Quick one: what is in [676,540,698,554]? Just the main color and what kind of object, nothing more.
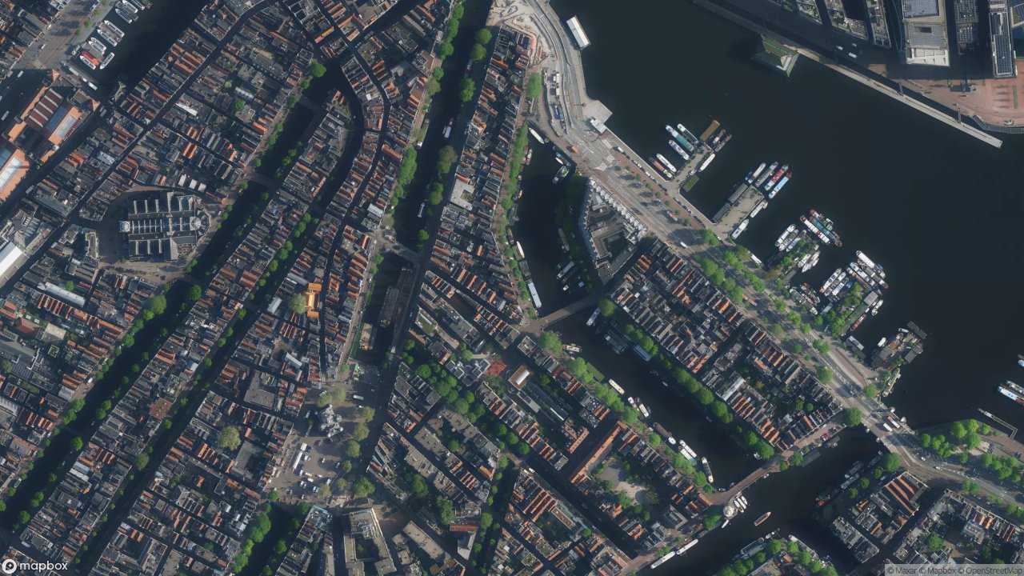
white boat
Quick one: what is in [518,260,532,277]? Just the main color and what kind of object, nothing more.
gray boat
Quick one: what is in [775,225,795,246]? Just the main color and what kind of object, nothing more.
white vessel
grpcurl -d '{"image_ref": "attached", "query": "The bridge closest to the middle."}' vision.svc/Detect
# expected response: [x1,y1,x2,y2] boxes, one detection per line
[520,292,607,334]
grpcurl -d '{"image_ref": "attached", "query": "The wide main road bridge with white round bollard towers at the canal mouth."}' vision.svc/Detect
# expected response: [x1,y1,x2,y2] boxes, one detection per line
[866,399,913,453]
